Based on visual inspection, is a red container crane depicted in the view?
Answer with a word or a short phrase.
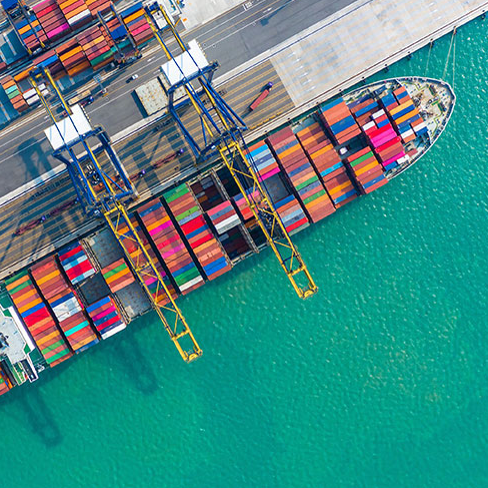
No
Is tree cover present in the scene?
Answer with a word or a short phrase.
No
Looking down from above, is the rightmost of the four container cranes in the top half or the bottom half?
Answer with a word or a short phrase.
top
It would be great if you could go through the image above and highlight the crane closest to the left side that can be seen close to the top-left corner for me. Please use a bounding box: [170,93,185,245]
[0,0,52,63]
